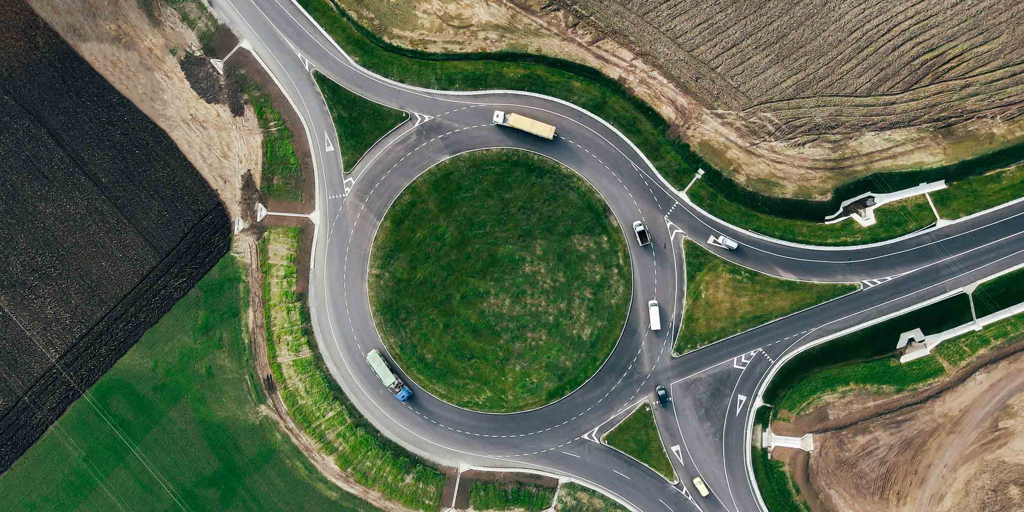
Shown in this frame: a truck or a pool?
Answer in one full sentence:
The one in the frame is a truck.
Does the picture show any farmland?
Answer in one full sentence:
Yes, farmland can be seen from above here.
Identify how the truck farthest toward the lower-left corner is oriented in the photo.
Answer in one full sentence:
The truck farthest toward the lower-left corner is laid out on a diagonal.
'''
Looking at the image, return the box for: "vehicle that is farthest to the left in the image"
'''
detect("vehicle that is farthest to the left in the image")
[366,349,414,402]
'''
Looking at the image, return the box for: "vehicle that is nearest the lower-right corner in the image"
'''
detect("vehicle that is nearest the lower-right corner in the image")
[692,475,708,496]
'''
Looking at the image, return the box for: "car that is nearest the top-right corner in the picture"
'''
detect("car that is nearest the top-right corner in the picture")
[717,235,738,250]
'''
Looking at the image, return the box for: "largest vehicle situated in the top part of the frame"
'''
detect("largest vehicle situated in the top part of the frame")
[492,109,556,140]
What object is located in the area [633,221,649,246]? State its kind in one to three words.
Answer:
vehicle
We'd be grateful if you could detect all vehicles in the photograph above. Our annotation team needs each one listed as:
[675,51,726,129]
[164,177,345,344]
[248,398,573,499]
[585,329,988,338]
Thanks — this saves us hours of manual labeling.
[692,475,708,496]
[647,300,660,330]
[633,221,649,246]
[366,349,414,402]
[492,109,556,140]
[717,235,738,250]
[656,384,668,406]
